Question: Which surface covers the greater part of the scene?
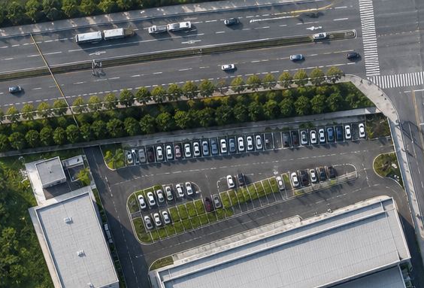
paved ground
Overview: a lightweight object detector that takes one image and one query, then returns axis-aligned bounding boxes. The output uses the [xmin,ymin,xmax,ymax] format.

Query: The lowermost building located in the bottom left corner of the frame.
[28,187,122,288]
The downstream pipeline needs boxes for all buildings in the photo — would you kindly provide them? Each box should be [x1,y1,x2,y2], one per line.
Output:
[28,187,122,288]
[35,157,67,192]
[153,198,409,288]
[62,155,83,173]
